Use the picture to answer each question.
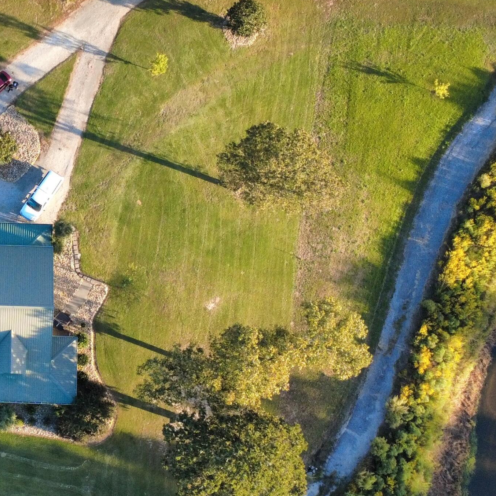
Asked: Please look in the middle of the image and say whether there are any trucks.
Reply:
No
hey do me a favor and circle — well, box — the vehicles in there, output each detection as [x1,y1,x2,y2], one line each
[0,69,13,93]
[19,167,65,222]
